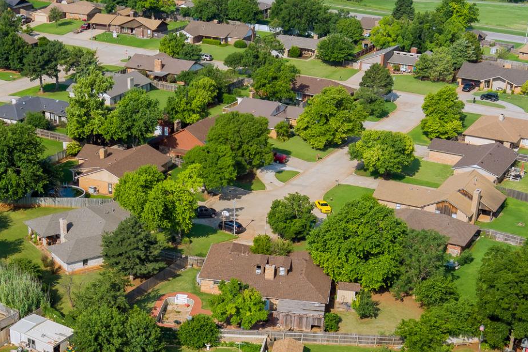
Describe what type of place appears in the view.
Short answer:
residential area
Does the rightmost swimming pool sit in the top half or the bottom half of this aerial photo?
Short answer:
bottom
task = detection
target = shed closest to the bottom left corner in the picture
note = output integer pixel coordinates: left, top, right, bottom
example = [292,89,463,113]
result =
[9,315,75,352]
